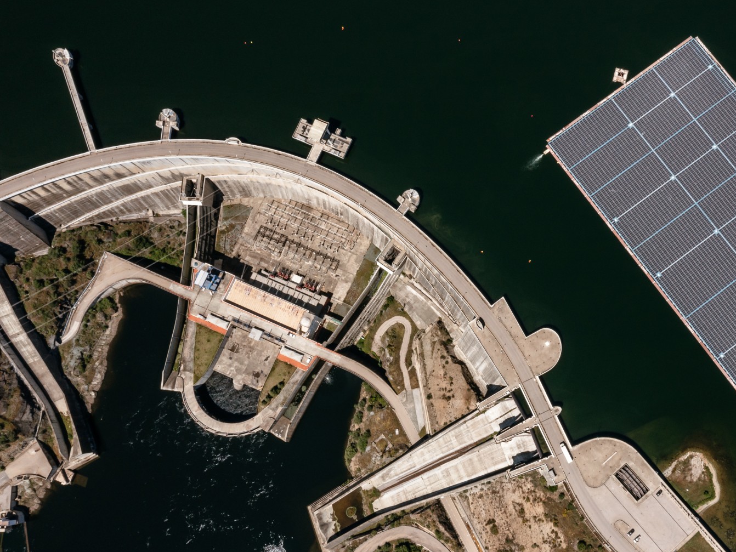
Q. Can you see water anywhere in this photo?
Yes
